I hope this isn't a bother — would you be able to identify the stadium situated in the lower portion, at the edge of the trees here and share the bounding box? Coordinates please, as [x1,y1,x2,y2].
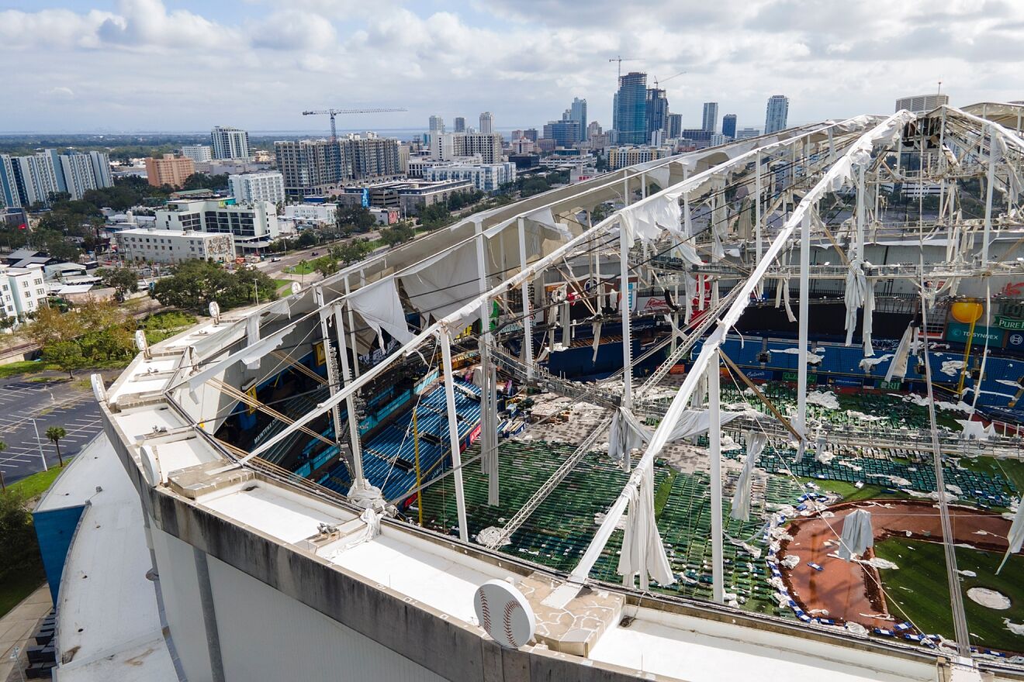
[105,238,1024,682]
